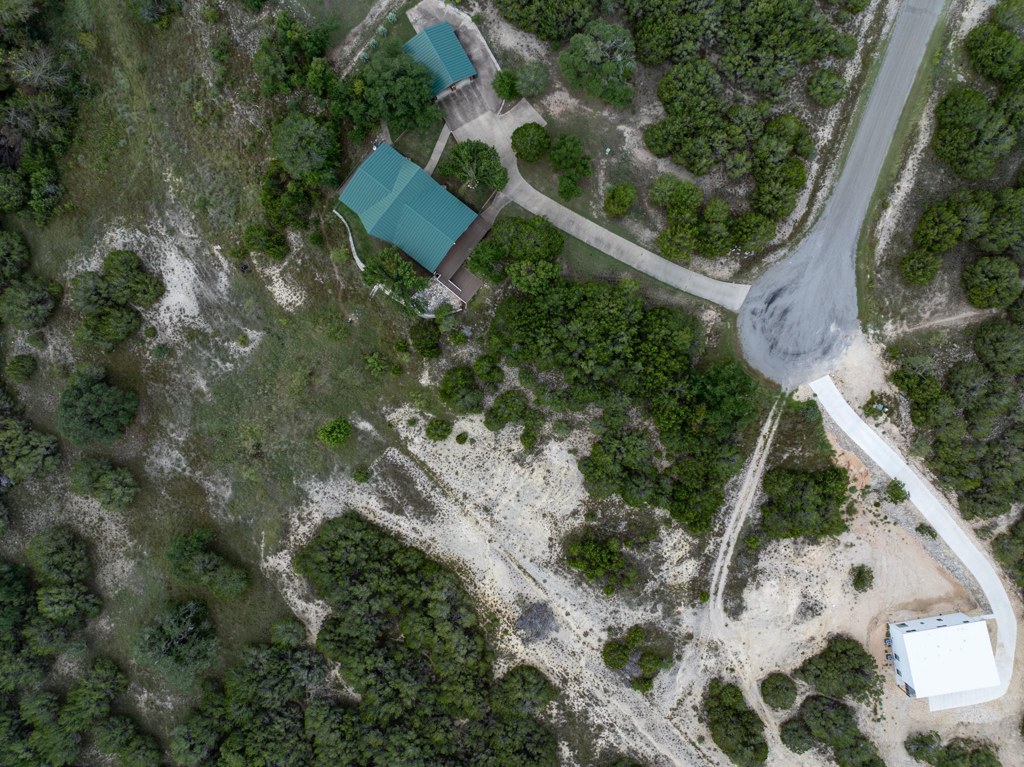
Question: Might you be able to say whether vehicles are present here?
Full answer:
No, the picture doesn't show any vehicle.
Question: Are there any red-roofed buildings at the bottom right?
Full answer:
No, I can find no red-roofed building at the bottom right.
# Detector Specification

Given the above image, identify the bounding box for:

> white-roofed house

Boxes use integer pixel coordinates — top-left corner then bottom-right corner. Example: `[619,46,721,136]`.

[888,609,999,701]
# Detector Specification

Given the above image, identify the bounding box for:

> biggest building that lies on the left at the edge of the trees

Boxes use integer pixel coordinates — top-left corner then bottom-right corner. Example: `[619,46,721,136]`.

[336,141,478,273]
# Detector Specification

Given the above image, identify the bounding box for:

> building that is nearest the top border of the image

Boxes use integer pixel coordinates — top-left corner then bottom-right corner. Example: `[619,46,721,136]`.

[402,21,478,104]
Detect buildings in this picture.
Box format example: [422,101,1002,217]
[402,21,478,104]
[336,141,478,273]
[888,609,999,701]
